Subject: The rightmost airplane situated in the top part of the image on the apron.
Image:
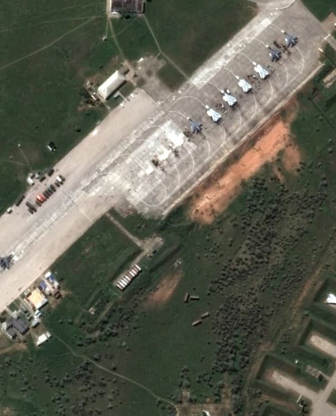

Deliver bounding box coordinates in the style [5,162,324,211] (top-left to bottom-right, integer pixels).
[283,31,300,47]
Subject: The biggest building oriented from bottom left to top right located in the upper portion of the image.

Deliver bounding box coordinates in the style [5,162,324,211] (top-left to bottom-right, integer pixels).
[96,70,127,100]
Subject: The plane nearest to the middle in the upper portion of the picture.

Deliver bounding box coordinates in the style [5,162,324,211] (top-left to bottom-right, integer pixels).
[190,119,205,134]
